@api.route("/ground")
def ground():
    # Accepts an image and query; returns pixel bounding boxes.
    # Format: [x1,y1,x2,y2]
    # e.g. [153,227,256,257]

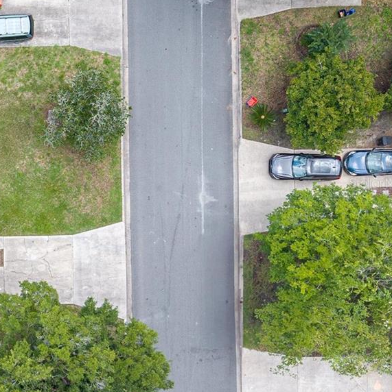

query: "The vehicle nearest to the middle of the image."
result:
[269,149,342,183]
